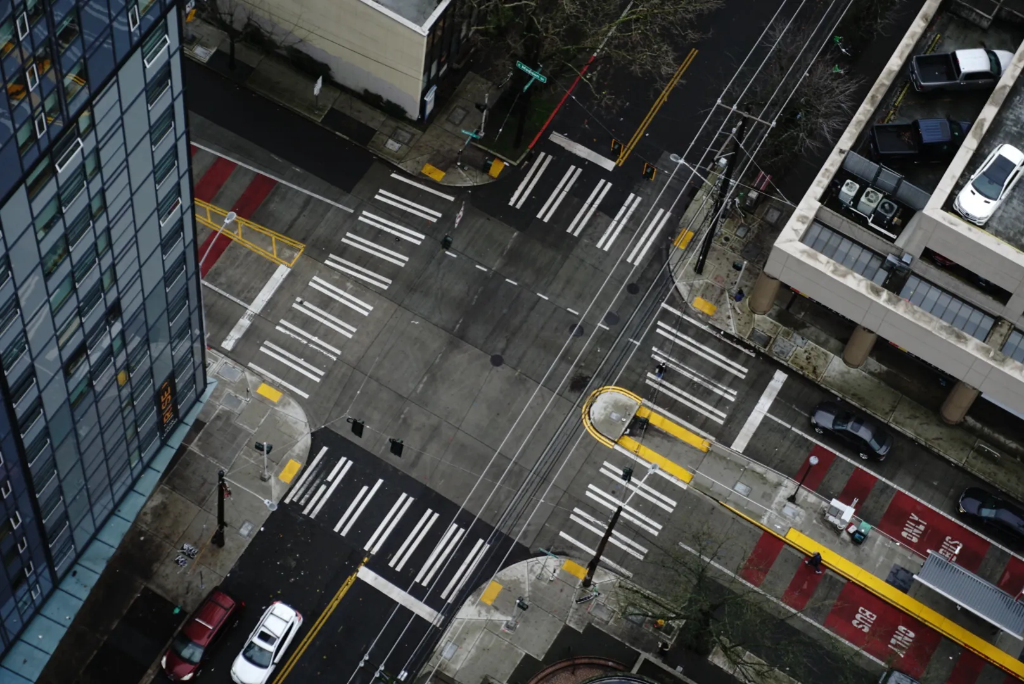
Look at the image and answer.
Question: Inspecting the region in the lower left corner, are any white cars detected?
Yes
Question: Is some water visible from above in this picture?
No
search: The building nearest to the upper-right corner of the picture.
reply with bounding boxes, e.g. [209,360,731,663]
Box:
[750,0,1024,425]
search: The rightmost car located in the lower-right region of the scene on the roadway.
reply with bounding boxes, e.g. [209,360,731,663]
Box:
[953,488,1024,553]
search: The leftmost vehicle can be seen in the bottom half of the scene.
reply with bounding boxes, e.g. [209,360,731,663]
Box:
[166,592,246,684]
